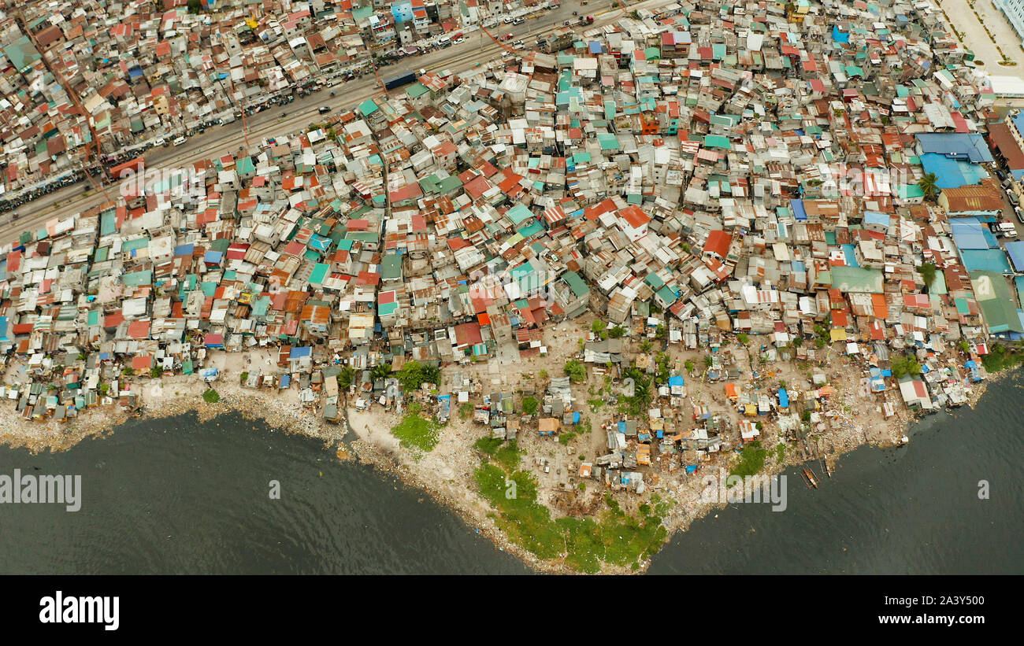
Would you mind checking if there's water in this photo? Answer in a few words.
Yes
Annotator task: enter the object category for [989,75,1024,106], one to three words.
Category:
building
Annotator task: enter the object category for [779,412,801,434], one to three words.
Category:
shed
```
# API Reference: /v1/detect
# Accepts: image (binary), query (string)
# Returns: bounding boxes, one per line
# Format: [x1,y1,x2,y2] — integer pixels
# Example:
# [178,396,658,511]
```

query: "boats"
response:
[818,454,837,476]
[799,468,821,488]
